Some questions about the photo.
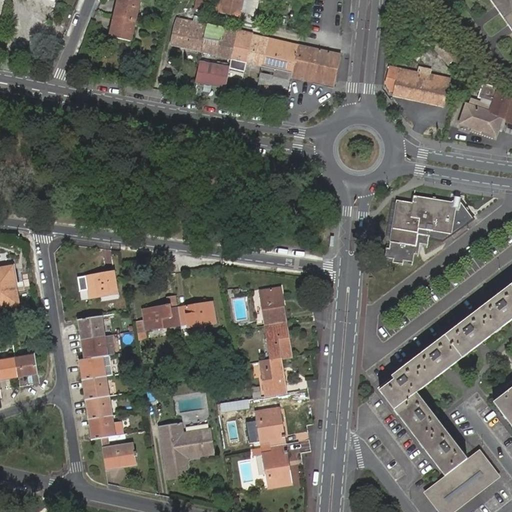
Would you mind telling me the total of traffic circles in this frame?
1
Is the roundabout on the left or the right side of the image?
right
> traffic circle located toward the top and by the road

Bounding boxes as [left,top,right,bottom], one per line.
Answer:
[316,106,404,194]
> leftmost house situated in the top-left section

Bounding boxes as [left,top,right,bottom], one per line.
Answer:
[109,0,140,40]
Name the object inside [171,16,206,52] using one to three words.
house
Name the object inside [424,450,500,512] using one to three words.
building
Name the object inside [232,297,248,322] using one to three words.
swimming pool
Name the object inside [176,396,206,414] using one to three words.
swimming pool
